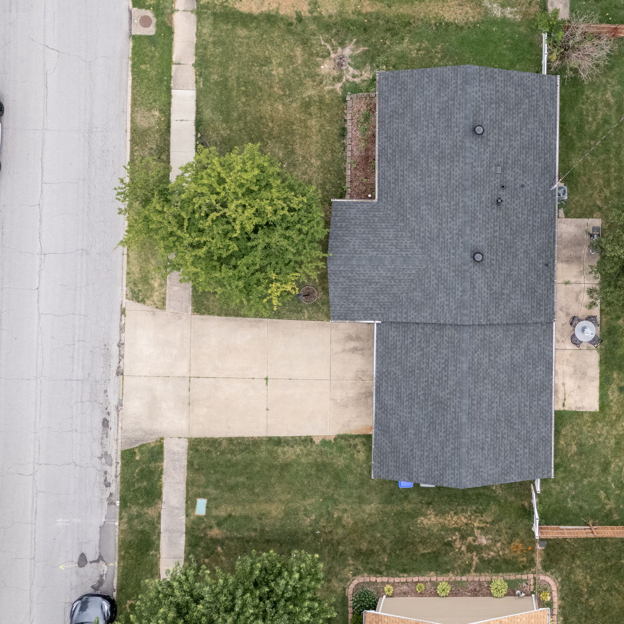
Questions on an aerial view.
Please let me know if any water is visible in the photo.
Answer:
No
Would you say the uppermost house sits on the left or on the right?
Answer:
right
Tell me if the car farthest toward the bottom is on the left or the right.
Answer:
left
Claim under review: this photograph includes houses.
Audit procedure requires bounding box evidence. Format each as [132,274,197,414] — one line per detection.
[362,596,552,624]
[328,64,561,488]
